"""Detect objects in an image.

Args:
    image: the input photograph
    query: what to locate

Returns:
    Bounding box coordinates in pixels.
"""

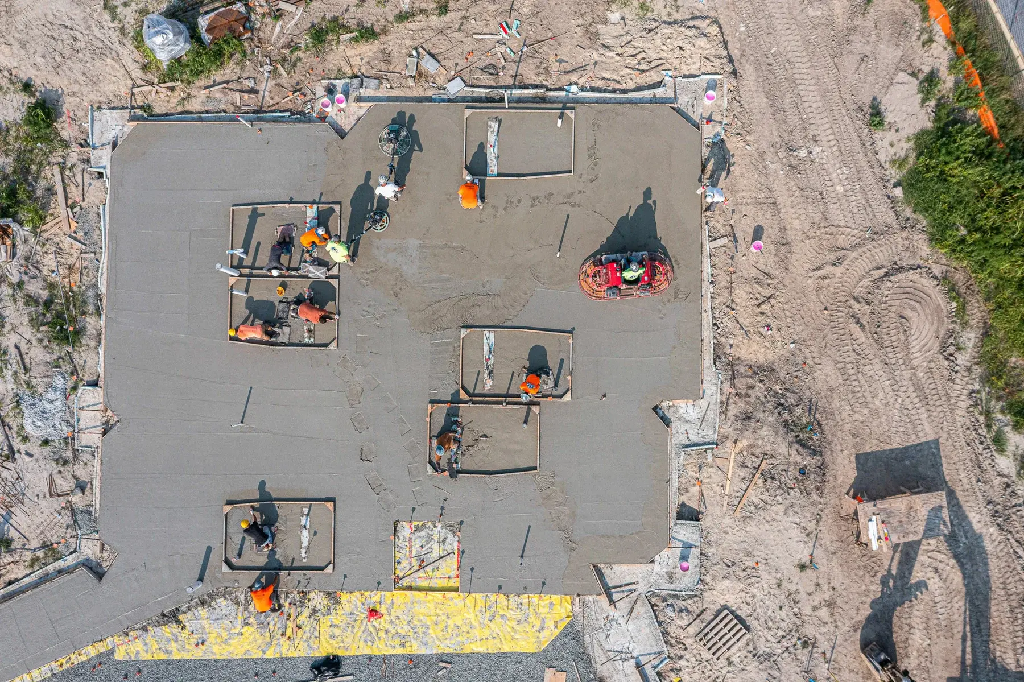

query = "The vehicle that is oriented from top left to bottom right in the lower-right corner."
[856,644,908,682]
